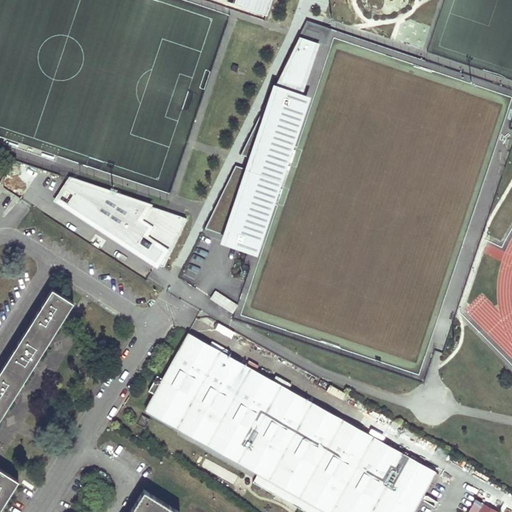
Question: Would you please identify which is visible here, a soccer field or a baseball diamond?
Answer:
soccer field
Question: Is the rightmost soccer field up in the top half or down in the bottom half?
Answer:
top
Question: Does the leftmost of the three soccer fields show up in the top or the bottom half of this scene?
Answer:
top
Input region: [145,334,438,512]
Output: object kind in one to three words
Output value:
warehouse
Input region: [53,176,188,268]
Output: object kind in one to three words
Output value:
building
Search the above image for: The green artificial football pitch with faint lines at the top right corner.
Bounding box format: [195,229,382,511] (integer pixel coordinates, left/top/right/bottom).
[422,0,512,80]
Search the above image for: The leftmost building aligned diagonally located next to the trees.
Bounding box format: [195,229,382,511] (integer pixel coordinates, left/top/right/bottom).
[0,293,74,418]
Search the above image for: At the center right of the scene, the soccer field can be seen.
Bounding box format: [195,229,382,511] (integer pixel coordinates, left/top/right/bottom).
[241,38,510,374]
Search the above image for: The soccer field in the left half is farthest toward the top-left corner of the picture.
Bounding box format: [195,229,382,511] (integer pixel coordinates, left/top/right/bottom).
[0,0,230,193]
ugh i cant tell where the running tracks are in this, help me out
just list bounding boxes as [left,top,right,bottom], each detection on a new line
[468,232,512,357]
